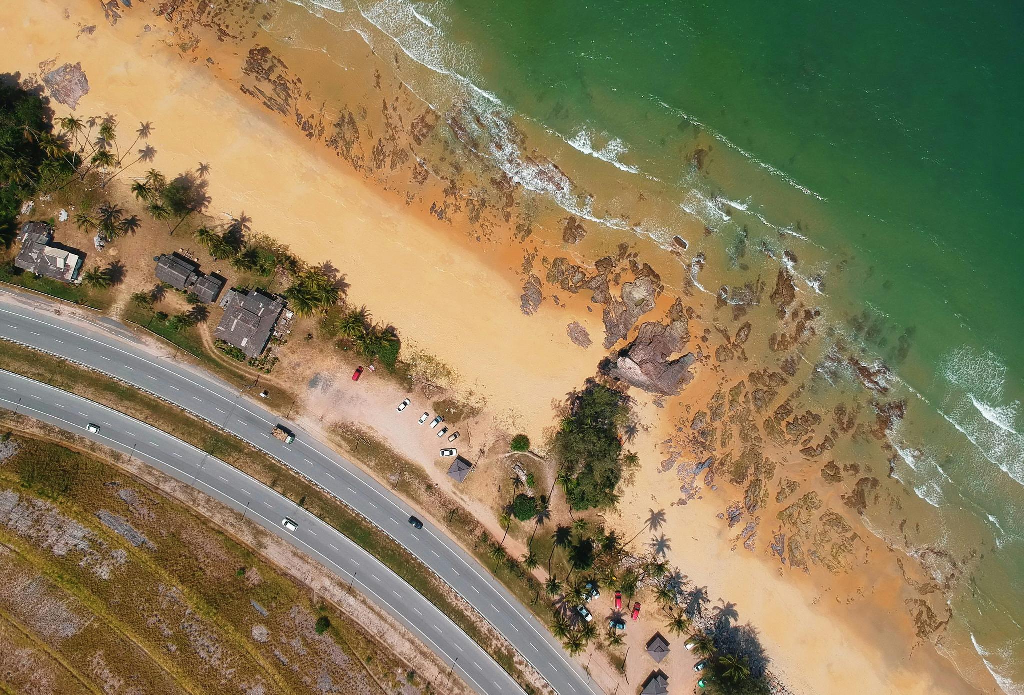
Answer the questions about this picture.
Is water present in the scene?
Yes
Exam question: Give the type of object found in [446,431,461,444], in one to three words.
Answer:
vehicle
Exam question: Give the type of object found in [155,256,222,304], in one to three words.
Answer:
house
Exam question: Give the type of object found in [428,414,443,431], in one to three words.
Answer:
car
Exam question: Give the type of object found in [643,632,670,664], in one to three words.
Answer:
building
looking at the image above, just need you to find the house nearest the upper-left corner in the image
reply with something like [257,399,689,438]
[15,223,83,282]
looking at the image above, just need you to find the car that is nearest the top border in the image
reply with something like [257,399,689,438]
[350,365,364,382]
